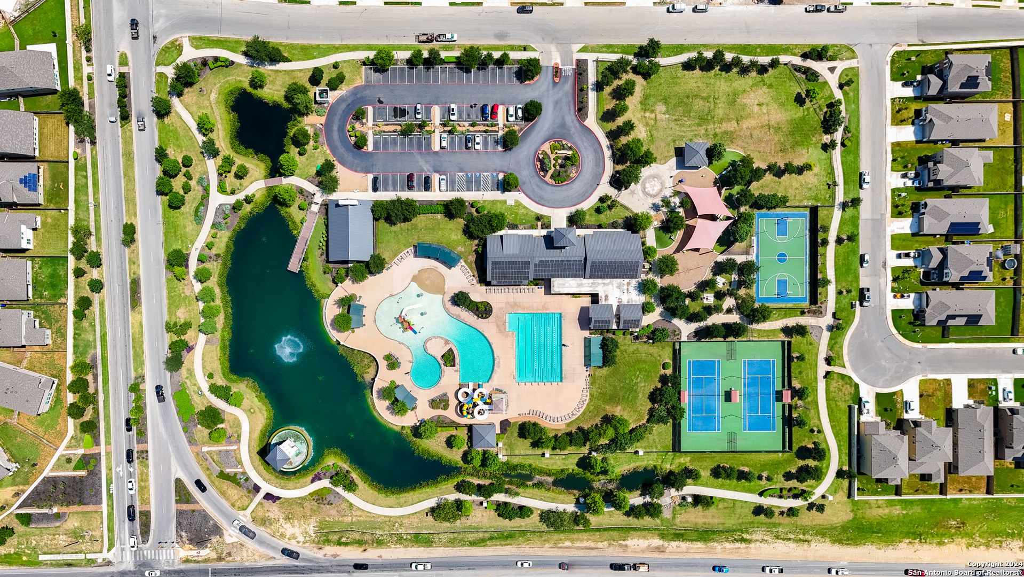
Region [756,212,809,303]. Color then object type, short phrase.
green basketball court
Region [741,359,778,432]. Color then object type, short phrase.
blue tennis court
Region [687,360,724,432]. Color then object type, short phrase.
blue tennis court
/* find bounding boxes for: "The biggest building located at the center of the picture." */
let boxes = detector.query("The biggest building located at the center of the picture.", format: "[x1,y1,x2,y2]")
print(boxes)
[486,228,645,329]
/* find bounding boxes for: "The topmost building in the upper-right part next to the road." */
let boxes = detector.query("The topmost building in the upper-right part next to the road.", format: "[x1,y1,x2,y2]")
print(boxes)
[922,55,991,97]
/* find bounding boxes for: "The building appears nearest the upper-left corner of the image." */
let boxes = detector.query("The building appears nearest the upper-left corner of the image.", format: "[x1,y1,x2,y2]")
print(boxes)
[0,51,62,94]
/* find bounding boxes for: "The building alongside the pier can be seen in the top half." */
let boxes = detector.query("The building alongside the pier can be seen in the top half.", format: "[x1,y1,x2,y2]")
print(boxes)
[328,197,376,262]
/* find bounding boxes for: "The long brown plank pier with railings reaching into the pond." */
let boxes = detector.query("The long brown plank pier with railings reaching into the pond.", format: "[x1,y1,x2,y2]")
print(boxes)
[287,209,318,273]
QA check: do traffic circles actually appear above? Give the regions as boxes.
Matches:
[535,139,581,185]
